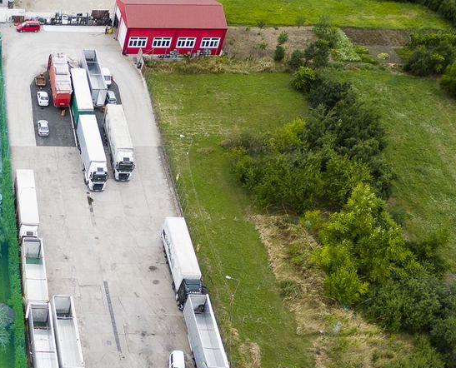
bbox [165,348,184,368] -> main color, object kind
white vehicle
